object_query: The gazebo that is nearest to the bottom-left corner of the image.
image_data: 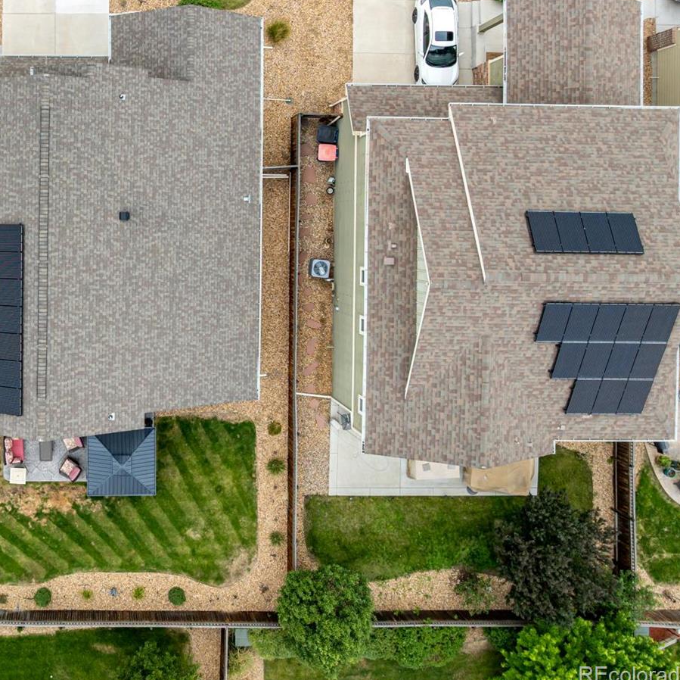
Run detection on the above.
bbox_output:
[86,425,156,497]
